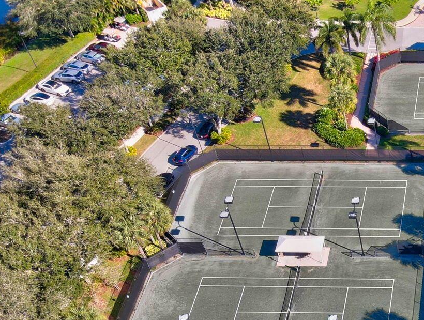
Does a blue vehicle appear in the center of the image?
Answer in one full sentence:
Yes, in the center of the image there is a blue vehicle.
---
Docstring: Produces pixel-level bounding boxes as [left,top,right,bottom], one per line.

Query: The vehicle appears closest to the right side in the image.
[191,119,220,142]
